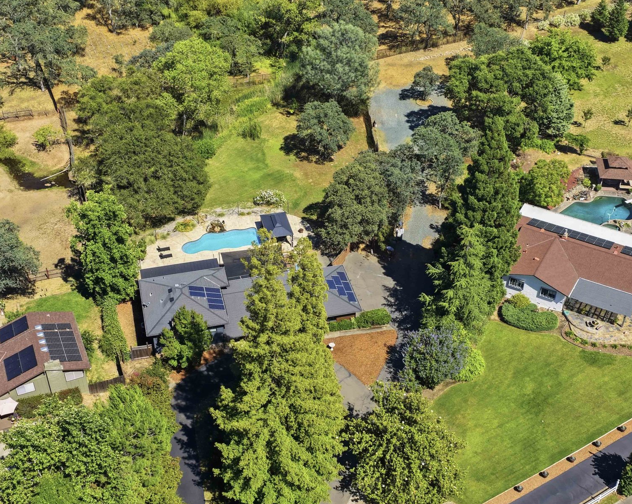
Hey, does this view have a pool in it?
Yes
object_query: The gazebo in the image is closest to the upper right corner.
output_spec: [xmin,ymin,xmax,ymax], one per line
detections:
[594,155,632,194]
